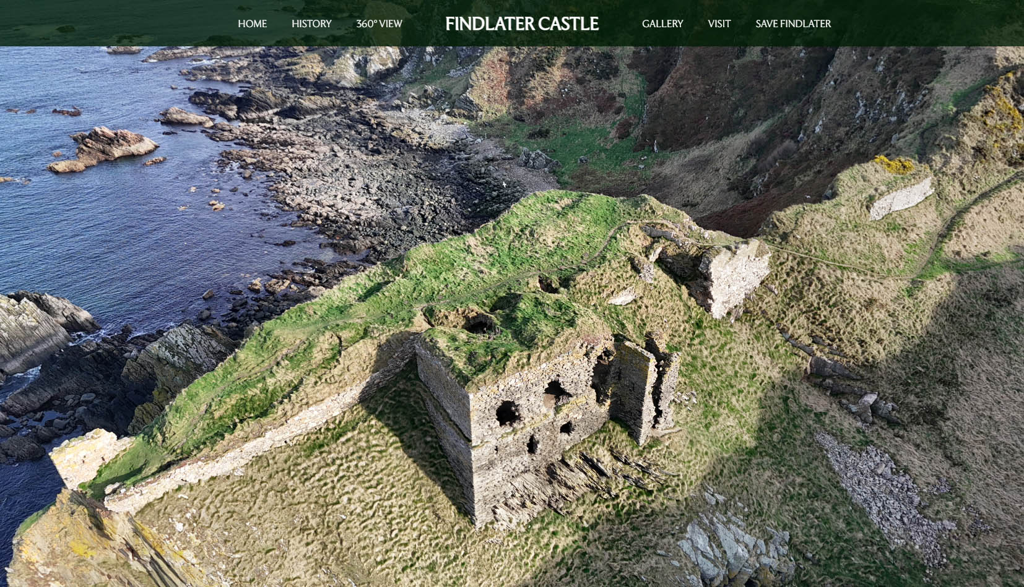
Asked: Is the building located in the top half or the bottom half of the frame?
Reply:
bottom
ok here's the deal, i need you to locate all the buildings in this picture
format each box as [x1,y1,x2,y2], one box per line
[414,260,664,538]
